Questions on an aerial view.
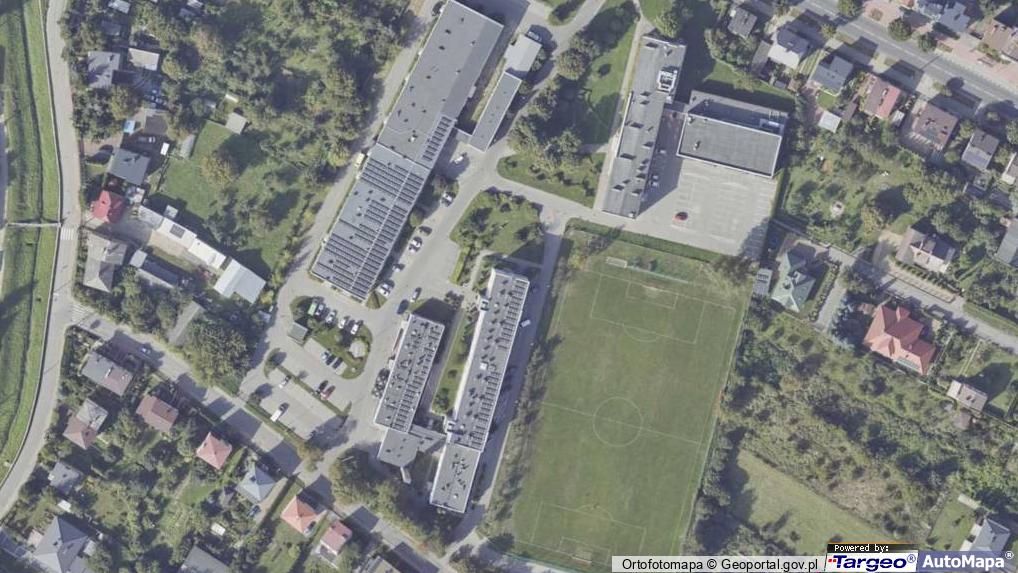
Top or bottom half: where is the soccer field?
bottom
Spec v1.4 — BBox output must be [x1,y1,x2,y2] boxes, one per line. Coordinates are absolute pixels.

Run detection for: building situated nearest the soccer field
[754,269,772,295]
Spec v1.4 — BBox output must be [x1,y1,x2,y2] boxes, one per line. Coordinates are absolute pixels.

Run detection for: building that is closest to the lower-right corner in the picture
[967,518,1011,563]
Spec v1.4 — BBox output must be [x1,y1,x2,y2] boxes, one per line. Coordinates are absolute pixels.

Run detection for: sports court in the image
[650,156,774,260]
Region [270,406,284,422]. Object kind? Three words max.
vehicle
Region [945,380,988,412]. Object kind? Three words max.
house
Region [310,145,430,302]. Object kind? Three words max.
building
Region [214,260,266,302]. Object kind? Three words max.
barn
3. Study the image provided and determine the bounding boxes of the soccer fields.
[487,222,760,573]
